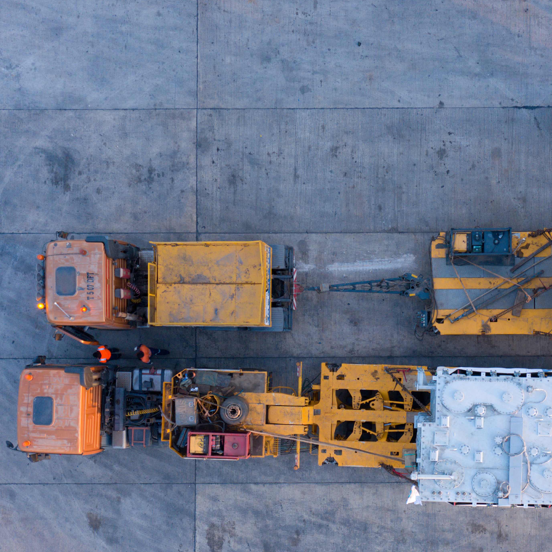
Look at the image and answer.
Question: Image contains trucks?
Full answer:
Yes, there is a truck in the image.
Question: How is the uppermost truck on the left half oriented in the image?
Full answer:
From this overhead view, the uppermost truck on the left half appears to run horizontally.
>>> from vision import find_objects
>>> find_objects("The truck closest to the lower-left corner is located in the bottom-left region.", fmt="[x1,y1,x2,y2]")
[4,355,220,461]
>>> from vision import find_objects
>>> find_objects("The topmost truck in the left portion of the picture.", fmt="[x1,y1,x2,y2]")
[31,231,304,344]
